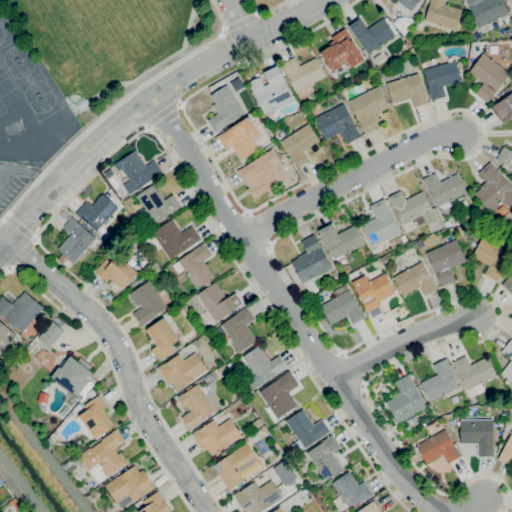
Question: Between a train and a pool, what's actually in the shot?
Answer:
pool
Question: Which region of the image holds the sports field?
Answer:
top left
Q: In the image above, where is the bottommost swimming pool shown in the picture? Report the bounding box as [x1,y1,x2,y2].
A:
[62,420,81,440]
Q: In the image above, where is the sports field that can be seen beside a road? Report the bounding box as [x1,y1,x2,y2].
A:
[10,0,190,99]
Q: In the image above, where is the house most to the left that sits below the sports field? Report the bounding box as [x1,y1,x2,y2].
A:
[0,293,44,333]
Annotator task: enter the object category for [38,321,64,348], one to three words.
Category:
building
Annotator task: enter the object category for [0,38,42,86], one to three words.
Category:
basketball court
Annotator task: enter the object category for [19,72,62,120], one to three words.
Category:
basketball court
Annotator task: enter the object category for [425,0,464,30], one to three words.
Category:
house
